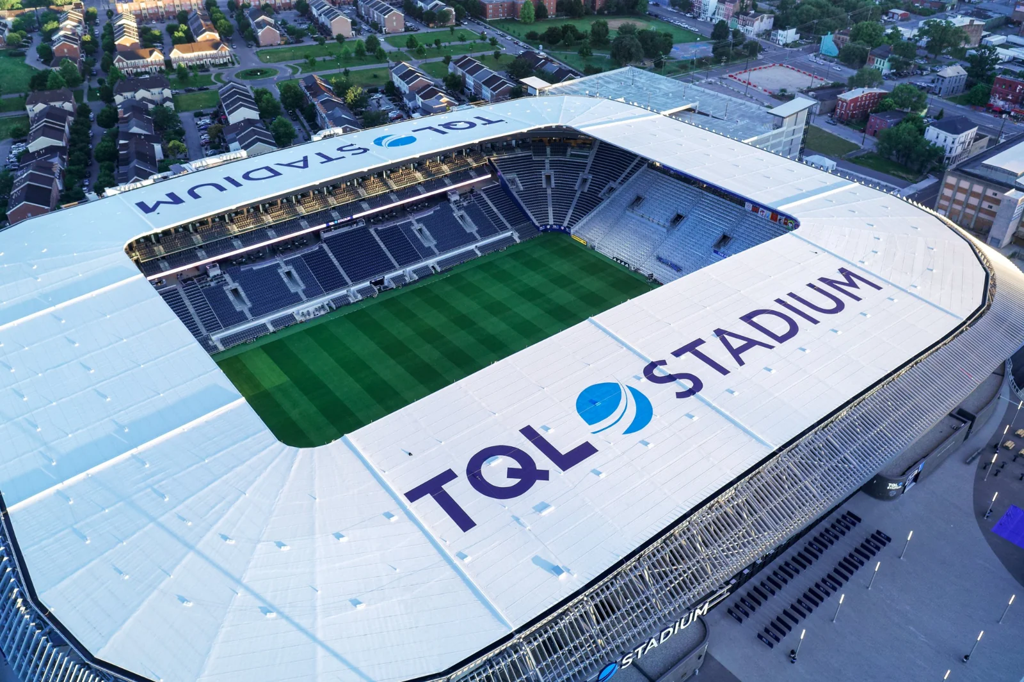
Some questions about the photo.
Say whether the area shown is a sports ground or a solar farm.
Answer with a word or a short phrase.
sports ground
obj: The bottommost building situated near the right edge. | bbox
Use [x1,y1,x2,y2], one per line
[846,409,975,509]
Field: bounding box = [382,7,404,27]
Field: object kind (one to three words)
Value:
house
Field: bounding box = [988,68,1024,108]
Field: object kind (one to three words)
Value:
building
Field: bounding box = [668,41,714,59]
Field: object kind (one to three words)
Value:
sports court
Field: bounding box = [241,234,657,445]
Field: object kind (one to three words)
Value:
sports field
